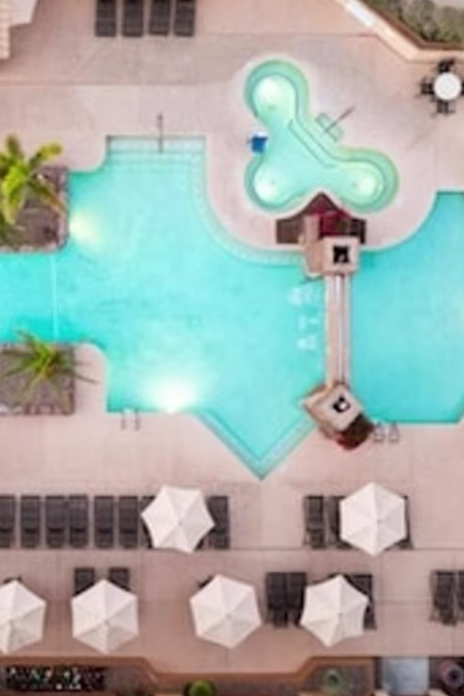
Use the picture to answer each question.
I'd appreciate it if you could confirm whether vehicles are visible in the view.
No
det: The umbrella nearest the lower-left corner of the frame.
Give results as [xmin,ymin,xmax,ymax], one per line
[0,577,47,655]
